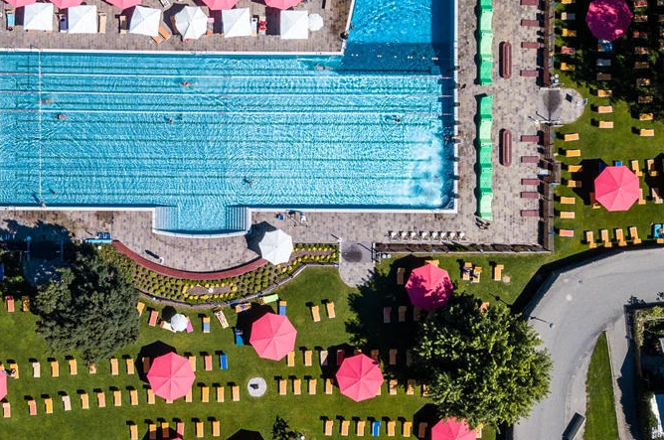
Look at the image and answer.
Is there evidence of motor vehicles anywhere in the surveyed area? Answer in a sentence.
No, the frame has no motor vehicle in it.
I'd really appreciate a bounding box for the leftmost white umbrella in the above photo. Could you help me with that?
[25,3,54,30]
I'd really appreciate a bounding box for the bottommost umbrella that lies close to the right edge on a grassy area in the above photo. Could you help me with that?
[592,166,637,211]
